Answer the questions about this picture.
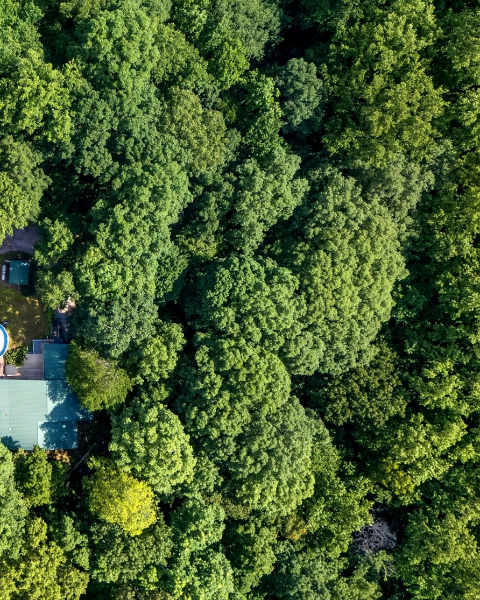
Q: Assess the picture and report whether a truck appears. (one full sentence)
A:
No, there isn't any truck down there.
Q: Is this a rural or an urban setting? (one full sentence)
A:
The area shown here is rural.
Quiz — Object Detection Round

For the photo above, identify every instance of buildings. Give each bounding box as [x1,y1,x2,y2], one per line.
[0,344,93,450]
[8,260,29,284]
